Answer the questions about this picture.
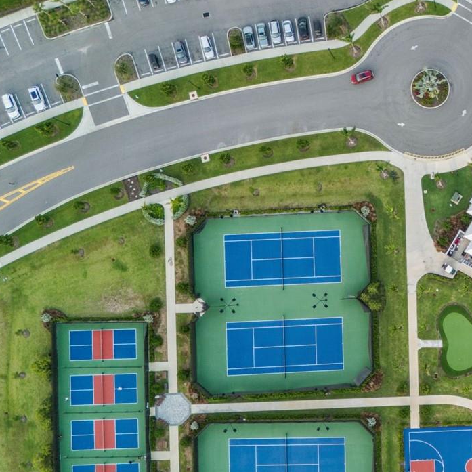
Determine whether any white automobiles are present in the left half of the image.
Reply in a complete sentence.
Yes, in the left half of the image there is a white automobile.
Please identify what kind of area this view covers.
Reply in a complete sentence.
This image shows a sports ground.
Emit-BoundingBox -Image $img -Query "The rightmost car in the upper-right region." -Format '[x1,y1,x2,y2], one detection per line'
[349,68,374,84]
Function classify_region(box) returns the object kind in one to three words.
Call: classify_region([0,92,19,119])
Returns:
car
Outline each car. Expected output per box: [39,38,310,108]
[268,17,283,44]
[310,15,322,38]
[280,17,294,42]
[295,14,309,40]
[171,37,188,63]
[254,19,269,48]
[25,84,46,111]
[241,24,255,51]
[146,51,160,70]
[197,33,214,60]
[0,92,19,119]
[349,68,374,84]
